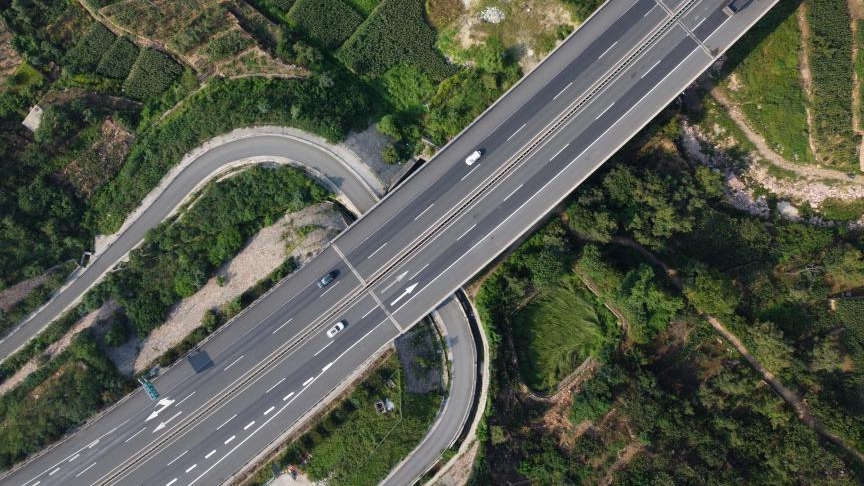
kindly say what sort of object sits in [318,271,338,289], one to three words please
car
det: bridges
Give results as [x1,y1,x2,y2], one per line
[327,0,777,335]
